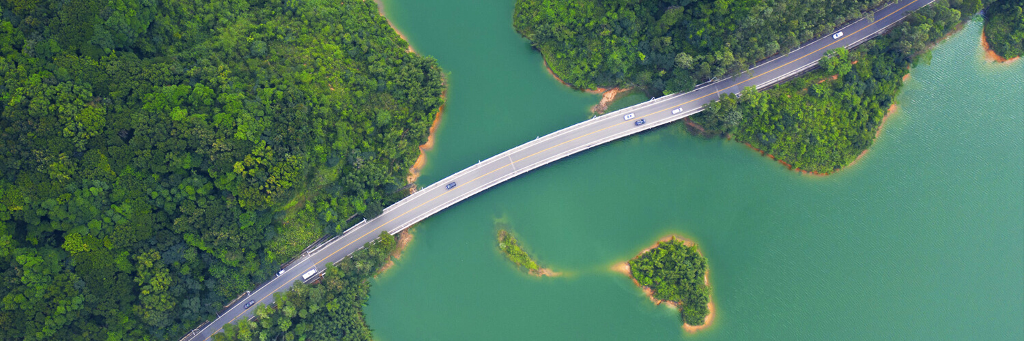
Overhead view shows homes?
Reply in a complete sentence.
No, I can see no home in this picture.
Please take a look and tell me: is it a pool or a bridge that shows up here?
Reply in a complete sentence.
Of the two, only a bridge appears.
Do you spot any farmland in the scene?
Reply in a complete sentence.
No, farmland can't be seen anywhere here.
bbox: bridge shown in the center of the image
[303,80,722,279]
